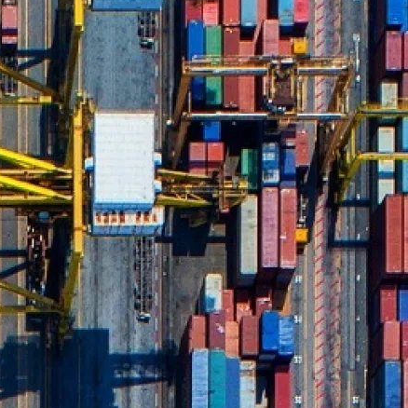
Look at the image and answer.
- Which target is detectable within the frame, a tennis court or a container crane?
container crane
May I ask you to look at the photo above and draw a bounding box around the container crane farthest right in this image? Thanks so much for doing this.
[339,100,408,211]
